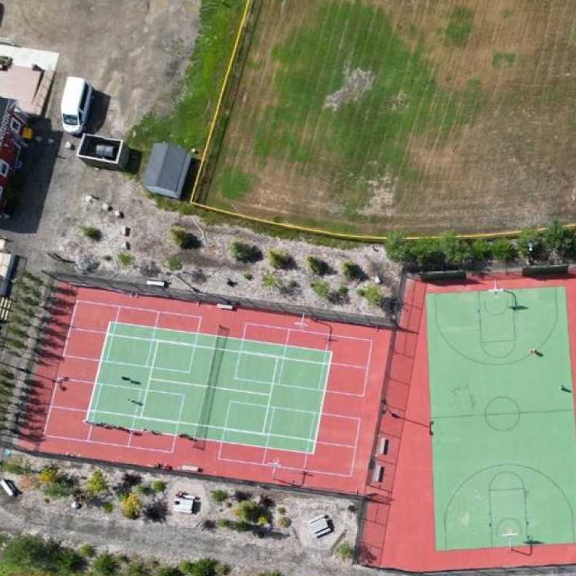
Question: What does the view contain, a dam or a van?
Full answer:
It is a van that can be seen here.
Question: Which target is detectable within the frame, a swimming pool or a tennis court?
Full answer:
It is a tennis court that can be seen here.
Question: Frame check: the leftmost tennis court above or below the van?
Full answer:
You can see the leftmost tennis court below the van in the frame.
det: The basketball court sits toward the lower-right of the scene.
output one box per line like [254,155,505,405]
[354,268,576,572]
